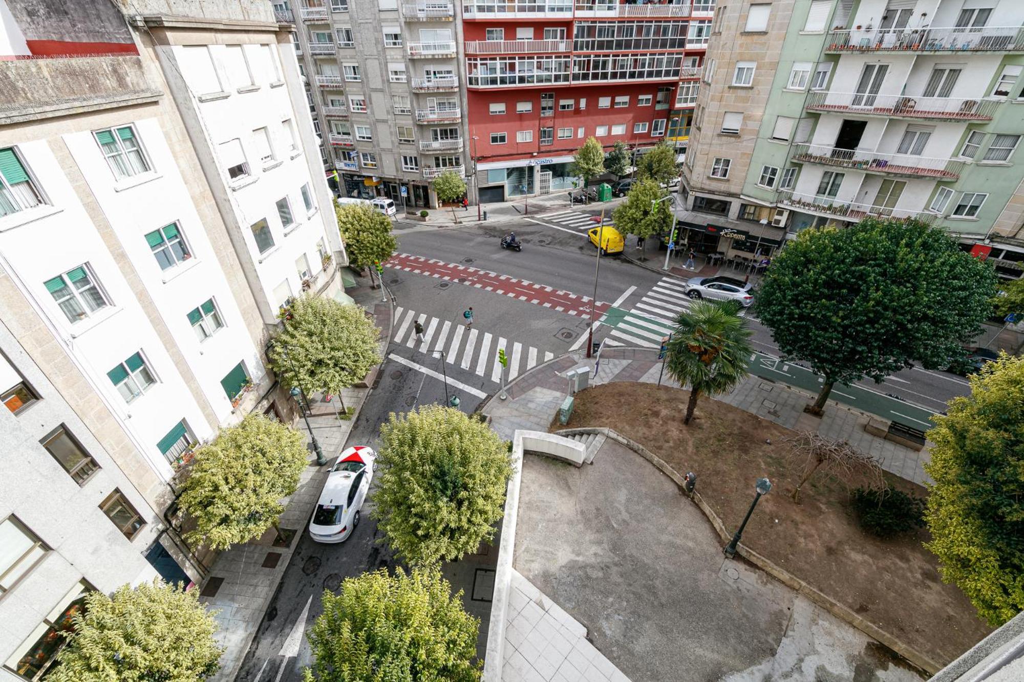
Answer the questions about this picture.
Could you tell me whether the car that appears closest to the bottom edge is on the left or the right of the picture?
left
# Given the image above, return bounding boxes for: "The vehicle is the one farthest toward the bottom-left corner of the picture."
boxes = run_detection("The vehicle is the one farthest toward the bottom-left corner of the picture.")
[305,446,374,535]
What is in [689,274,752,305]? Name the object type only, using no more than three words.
car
